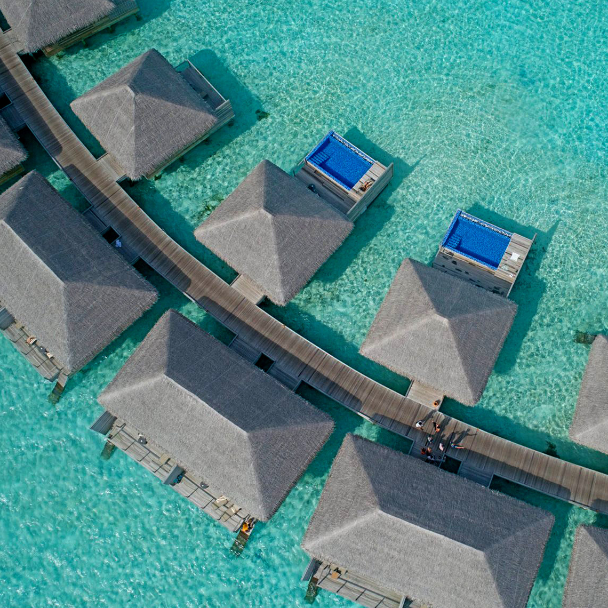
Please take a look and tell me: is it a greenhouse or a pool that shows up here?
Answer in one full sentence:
The one in the frame is a pool.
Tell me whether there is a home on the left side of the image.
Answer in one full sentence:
Yes, you'll find a home on the left side of the image.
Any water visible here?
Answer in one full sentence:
Yes, some water is visible.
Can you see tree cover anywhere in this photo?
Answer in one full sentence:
No, tree cover can't be seen anywhere here.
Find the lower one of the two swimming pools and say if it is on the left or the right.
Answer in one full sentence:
The lower one of the two swimming pools appears in the right half of the scene.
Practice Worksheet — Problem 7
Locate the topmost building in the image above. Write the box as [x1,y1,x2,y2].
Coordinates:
[0,0,140,66]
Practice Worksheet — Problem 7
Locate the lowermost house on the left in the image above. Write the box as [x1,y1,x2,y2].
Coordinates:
[91,310,335,547]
